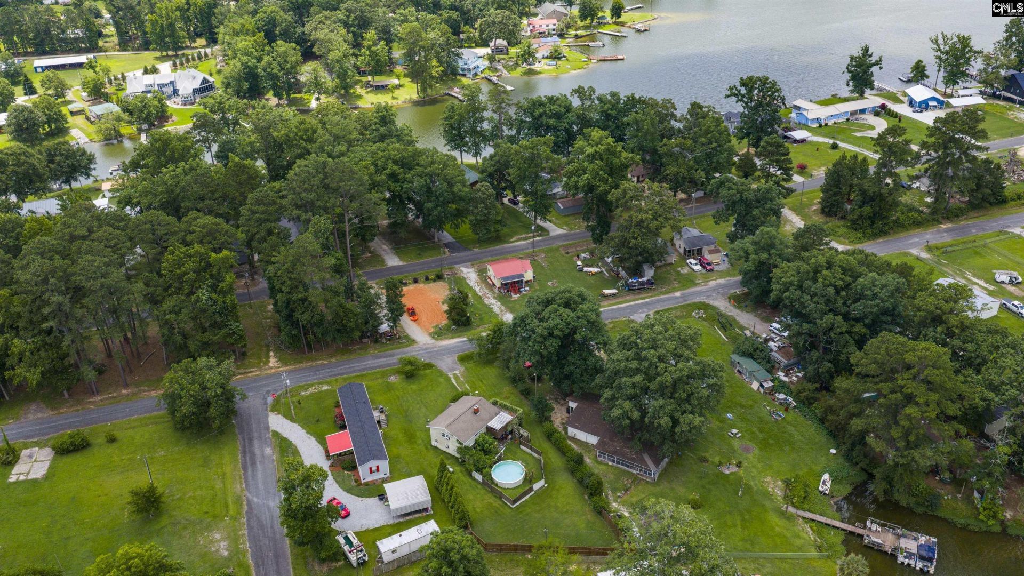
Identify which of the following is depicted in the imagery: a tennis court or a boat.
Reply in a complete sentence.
Looking from above, you can make out a boat.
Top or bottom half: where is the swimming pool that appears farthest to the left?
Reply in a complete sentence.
Seen from above, the swimming pool that appears farthest to the left lies in the bottom half of the view.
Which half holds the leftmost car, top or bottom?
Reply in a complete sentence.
Seen from above, the leftmost car lies in the bottom half of the view.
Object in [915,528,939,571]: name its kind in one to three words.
boat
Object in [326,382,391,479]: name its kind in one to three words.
house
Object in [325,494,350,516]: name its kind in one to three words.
car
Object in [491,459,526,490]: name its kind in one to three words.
swimming pool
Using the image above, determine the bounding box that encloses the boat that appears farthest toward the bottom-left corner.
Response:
[335,526,370,567]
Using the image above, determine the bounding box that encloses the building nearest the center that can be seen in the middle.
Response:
[487,257,533,298]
